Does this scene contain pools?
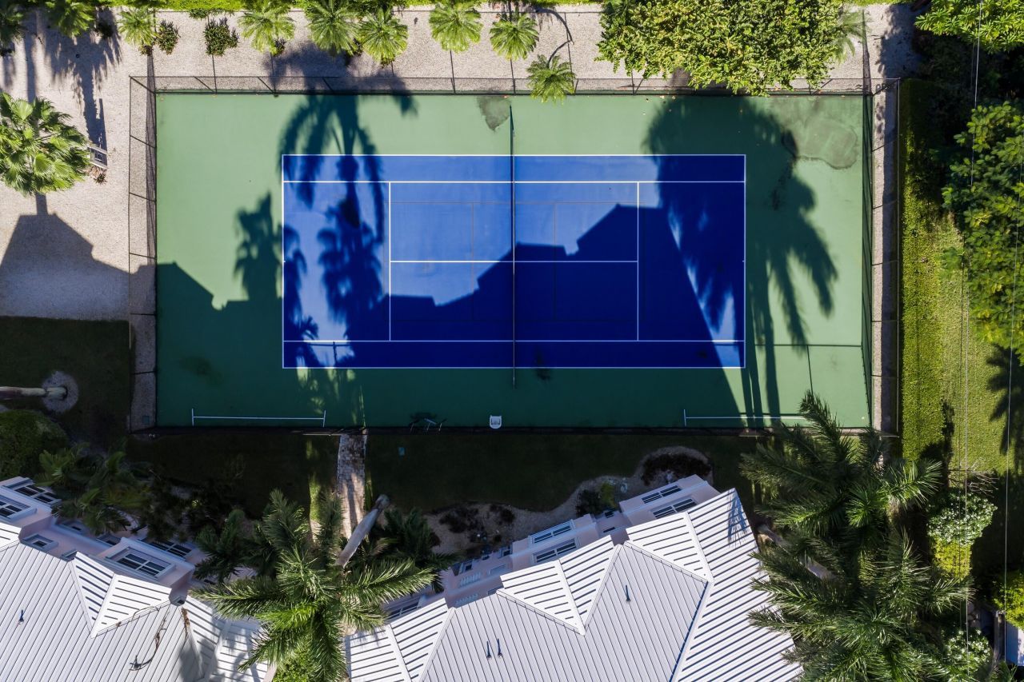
No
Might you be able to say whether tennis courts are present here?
Yes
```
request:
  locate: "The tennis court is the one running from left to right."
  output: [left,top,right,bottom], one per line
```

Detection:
[155,89,873,427]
